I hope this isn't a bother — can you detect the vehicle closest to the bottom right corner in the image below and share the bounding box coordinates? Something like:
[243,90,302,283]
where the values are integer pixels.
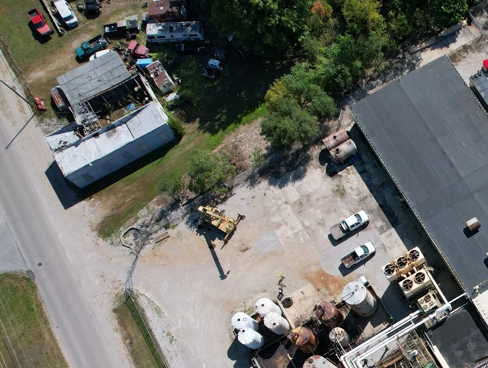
[341,245,378,271]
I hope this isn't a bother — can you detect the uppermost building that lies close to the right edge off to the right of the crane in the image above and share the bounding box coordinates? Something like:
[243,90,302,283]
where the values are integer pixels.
[349,54,488,303]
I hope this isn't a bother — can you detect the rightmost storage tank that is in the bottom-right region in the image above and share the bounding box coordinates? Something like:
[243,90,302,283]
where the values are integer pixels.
[342,281,378,315]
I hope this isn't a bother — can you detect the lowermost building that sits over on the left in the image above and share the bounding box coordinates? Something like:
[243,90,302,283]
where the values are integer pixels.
[42,99,181,188]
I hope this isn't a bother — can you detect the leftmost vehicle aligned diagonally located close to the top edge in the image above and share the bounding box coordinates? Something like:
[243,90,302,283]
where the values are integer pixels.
[25,7,56,38]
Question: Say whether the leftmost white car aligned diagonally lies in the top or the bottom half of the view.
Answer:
top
